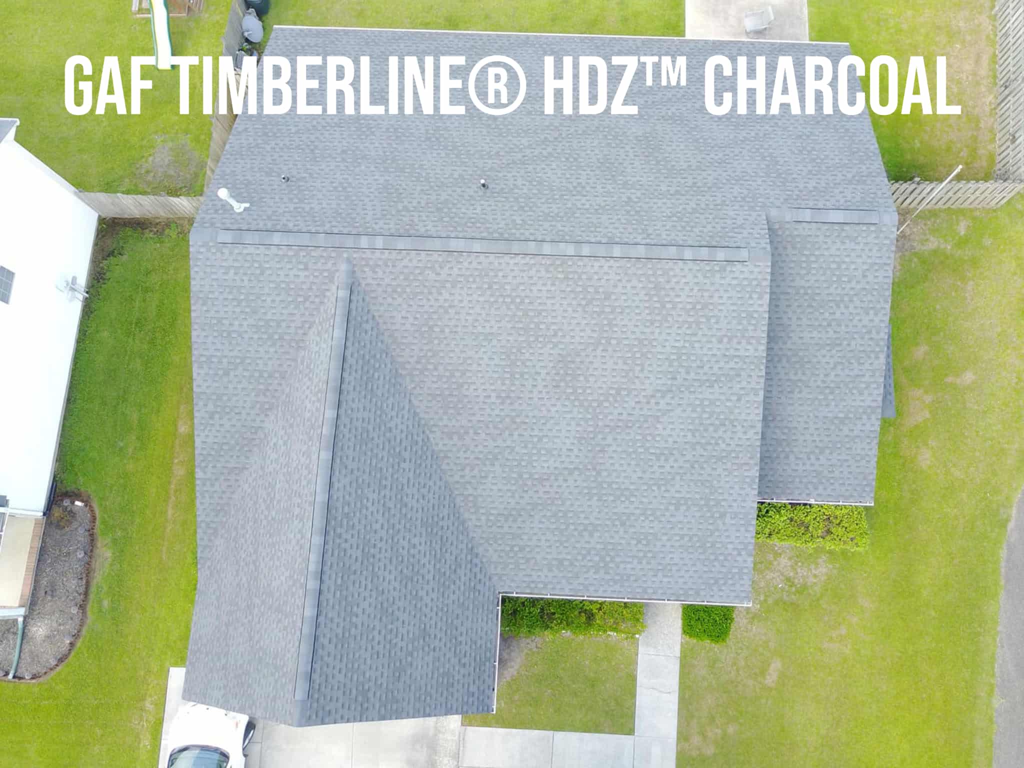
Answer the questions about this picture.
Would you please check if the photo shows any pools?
No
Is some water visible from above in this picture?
No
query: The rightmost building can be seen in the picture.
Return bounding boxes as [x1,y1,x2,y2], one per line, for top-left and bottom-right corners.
[181,24,901,727]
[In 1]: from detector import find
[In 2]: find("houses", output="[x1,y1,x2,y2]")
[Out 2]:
[181,24,901,727]
[0,124,101,620]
